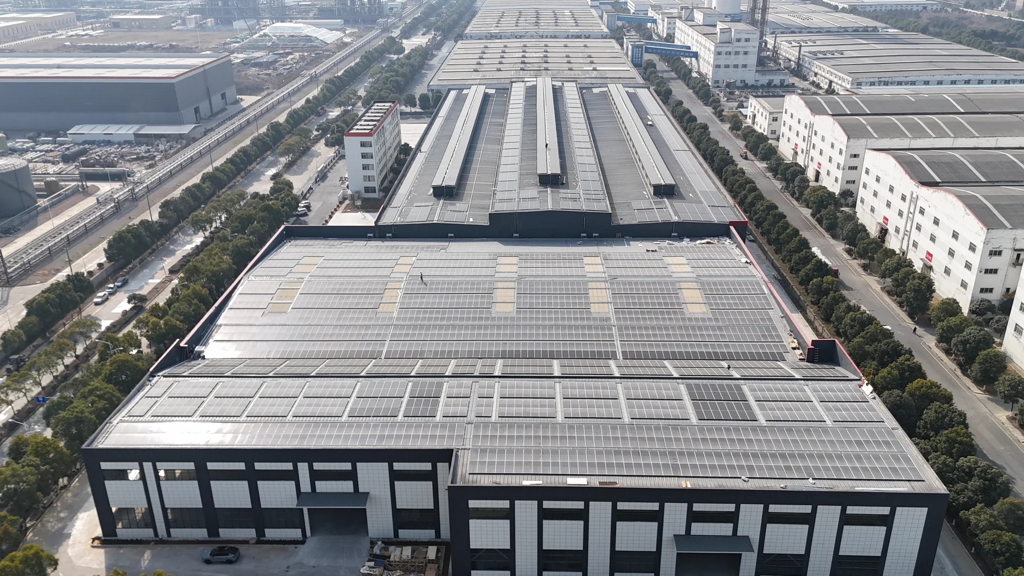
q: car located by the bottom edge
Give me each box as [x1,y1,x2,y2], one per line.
[200,548,239,567]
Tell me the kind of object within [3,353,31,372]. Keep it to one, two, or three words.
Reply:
work vehicle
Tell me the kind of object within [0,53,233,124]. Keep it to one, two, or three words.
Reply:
building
